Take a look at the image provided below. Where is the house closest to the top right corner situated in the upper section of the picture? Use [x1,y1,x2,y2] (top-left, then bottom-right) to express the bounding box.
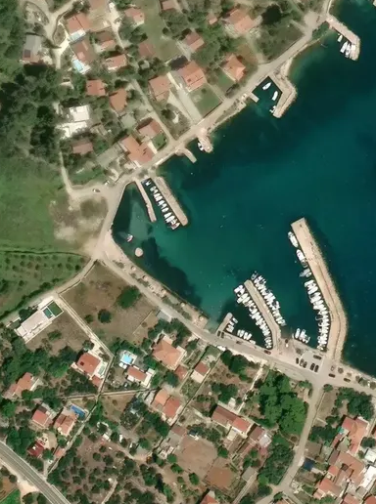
[226,7,256,36]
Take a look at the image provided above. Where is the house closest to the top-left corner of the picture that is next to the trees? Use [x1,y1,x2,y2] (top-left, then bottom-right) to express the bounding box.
[23,34,49,62]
